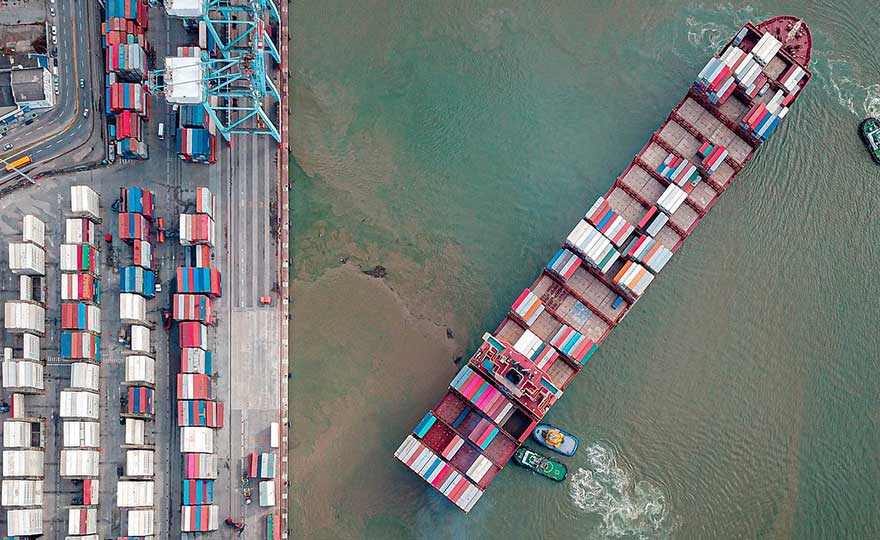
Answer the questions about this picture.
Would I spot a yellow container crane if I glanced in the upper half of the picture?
No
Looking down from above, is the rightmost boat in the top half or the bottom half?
top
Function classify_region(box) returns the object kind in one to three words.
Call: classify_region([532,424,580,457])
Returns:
boat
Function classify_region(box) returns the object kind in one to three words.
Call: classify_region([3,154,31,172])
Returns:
vehicle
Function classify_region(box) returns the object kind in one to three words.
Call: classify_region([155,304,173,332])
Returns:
work vehicle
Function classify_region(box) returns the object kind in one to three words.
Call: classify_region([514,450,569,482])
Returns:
boat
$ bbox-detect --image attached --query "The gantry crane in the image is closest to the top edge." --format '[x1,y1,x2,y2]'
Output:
[150,0,285,73]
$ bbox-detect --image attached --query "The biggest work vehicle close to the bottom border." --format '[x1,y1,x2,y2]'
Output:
[224,519,248,539]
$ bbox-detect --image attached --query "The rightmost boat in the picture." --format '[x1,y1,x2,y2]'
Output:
[859,116,880,165]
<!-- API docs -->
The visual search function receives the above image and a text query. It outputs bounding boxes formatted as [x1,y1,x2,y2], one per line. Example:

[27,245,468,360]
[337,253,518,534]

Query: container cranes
[150,0,285,73]
[150,9,290,150]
